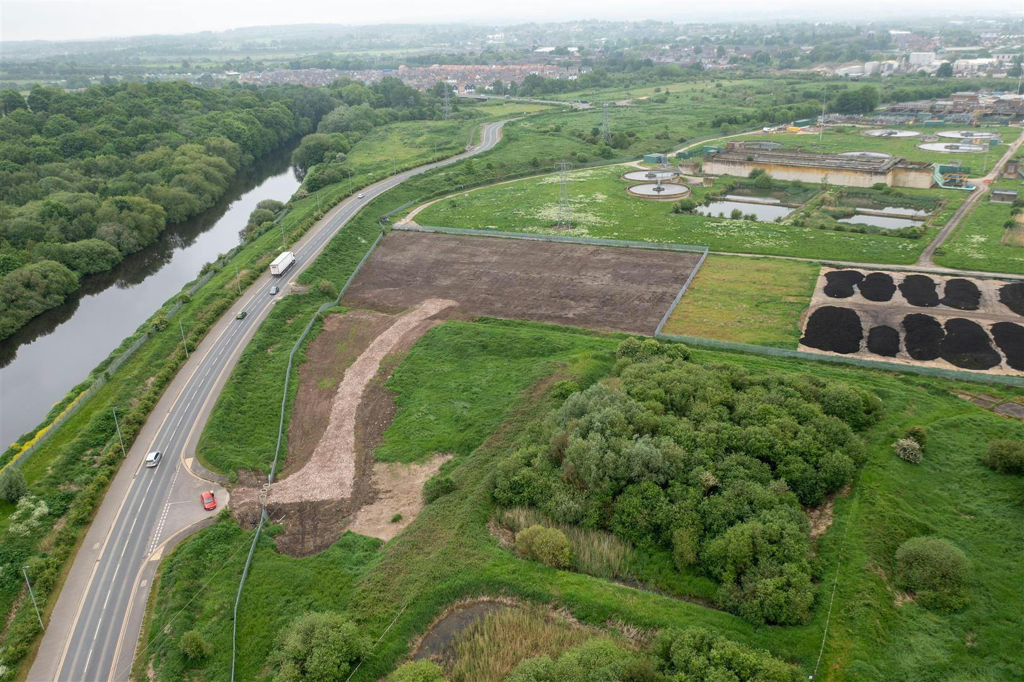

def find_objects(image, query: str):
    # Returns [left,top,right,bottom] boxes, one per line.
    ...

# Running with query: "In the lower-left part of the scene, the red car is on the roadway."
[201,489,216,508]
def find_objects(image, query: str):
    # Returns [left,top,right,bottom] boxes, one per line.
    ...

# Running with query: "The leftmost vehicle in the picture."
[143,450,161,466]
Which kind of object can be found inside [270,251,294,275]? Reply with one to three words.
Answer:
truck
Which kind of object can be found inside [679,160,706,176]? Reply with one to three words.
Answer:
building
